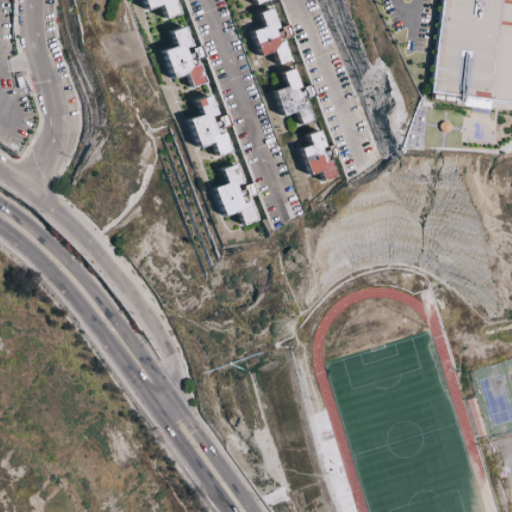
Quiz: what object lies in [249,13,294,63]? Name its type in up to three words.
building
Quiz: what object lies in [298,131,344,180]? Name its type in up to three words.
building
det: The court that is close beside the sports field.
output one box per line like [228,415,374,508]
[472,360,512,436]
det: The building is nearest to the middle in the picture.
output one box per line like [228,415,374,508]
[211,164,260,226]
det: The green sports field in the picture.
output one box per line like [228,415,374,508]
[327,332,483,512]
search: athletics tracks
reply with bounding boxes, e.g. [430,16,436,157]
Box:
[314,276,496,512]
